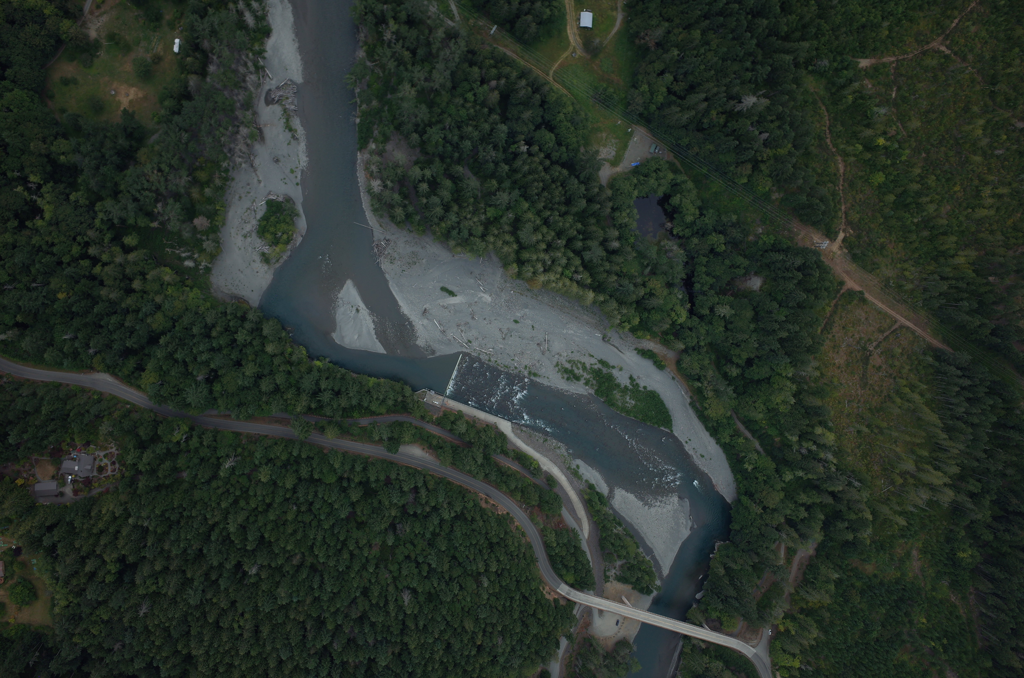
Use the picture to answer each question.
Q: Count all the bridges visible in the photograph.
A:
one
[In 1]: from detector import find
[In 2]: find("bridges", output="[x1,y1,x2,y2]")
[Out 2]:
[556,582,756,660]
